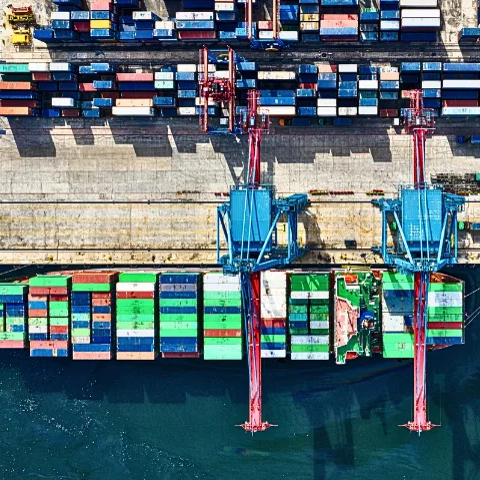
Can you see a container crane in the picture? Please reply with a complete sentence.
Yes, you can see a container crane in this photo.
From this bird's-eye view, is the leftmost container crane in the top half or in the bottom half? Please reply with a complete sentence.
The leftmost container crane sits in the top half of the picture.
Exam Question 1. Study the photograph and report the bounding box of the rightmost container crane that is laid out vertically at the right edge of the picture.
[367,89,467,434]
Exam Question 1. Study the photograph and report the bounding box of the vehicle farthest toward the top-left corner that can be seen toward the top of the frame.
[0,2,27,28]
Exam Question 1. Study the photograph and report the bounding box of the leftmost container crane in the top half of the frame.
[201,48,252,135]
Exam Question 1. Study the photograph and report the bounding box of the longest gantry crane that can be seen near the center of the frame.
[216,89,316,434]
